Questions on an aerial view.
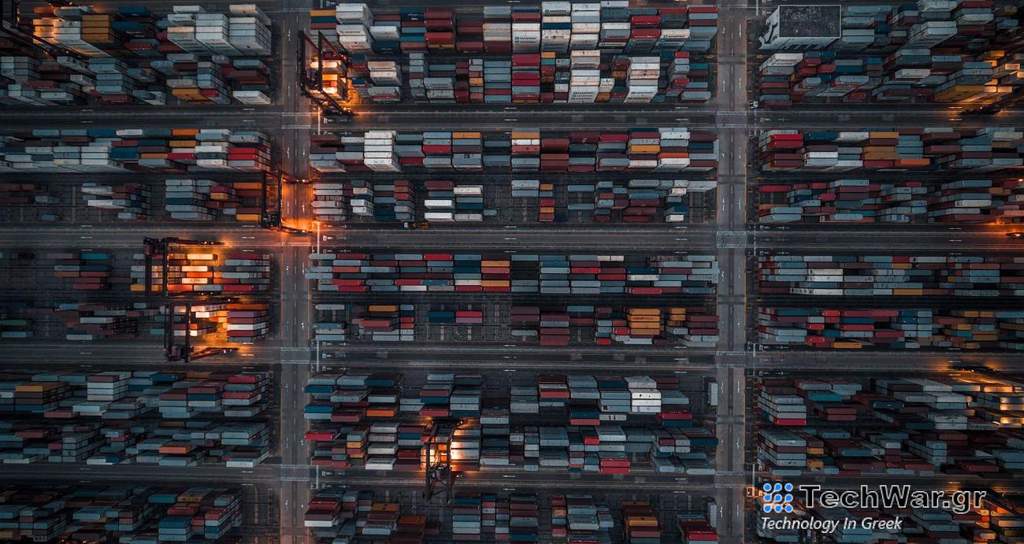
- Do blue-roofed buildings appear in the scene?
No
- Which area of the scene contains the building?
top right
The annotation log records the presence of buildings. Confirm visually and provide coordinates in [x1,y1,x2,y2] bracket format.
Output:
[757,4,841,51]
